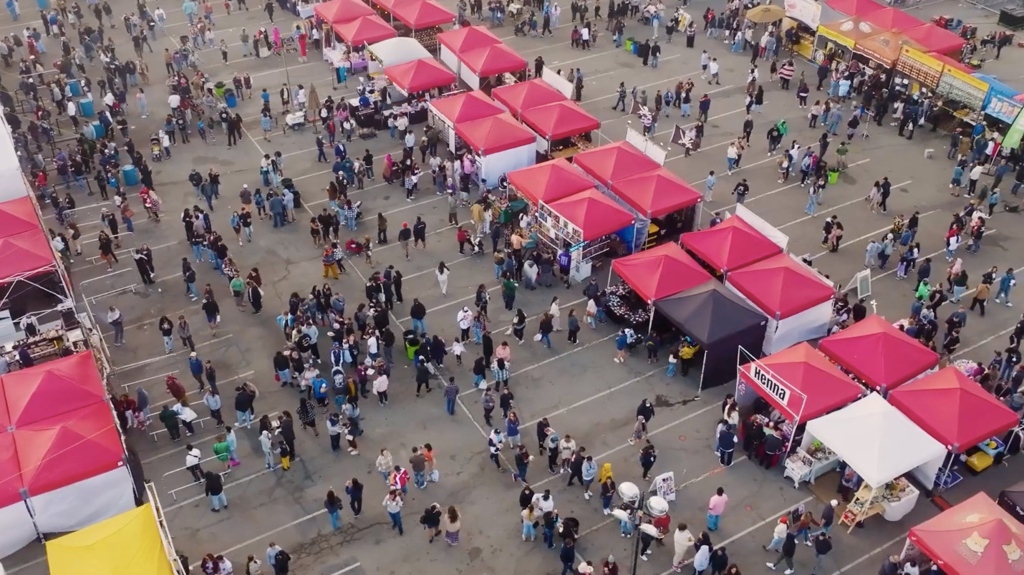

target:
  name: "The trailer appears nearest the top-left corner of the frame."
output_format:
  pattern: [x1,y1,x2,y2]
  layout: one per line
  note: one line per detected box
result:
[266,34,314,134]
